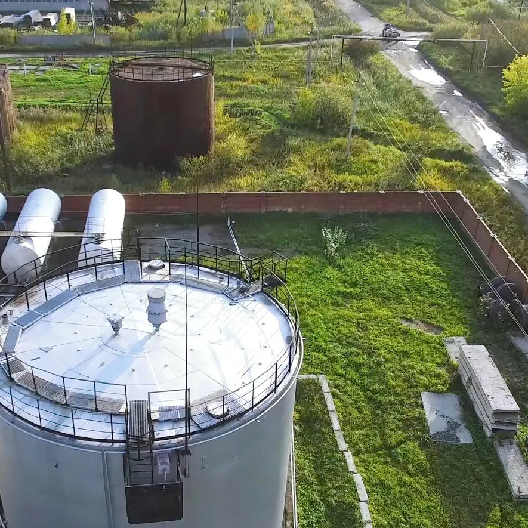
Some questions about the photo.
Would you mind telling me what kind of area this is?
industrial area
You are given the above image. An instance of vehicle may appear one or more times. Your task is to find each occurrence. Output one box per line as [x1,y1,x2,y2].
[382,26,401,43]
